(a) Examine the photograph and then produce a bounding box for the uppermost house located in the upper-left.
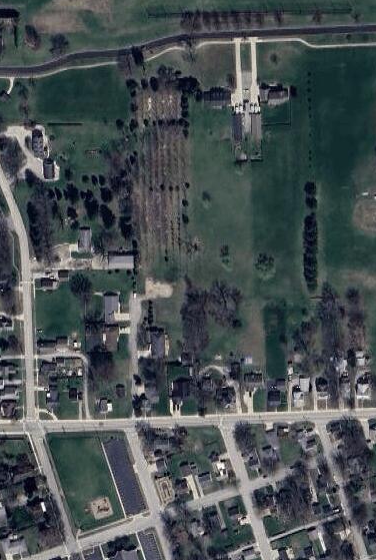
[31,129,46,157]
